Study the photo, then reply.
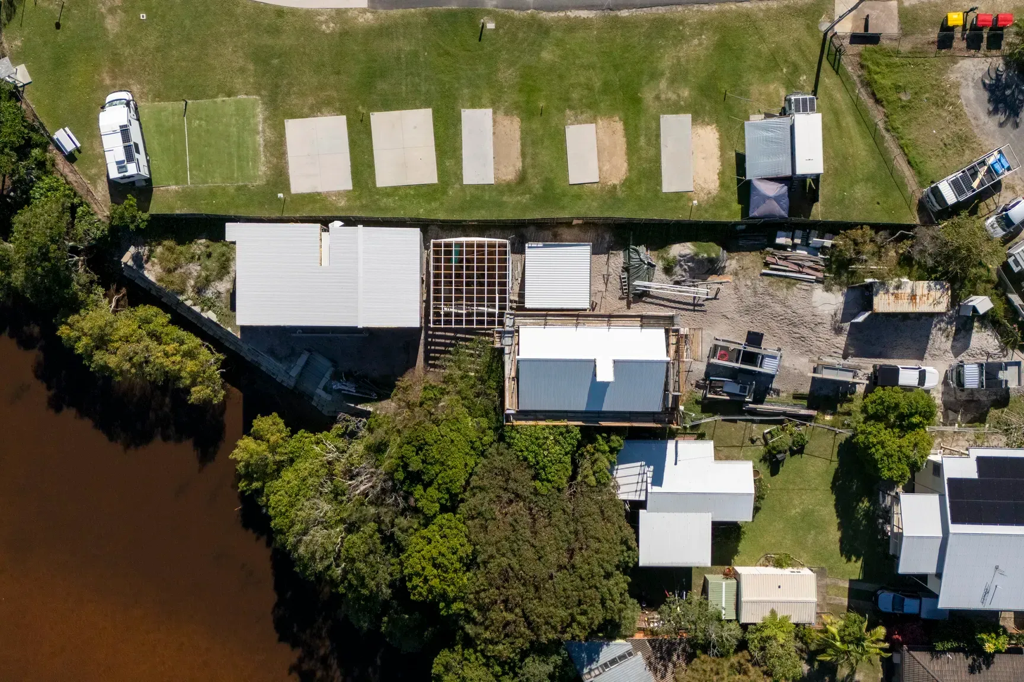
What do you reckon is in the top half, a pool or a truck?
truck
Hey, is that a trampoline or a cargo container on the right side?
cargo container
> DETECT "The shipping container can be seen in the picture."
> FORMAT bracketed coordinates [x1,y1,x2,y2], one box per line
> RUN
[836,281,952,321]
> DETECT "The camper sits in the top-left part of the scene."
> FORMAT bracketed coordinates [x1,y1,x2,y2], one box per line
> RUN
[102,92,154,186]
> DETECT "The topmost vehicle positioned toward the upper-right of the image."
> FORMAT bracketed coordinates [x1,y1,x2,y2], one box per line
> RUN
[782,94,818,118]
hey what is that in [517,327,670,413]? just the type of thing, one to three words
house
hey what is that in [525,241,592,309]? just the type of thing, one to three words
shed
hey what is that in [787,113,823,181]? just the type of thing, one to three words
vehicle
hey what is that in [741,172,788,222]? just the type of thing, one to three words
gazebo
